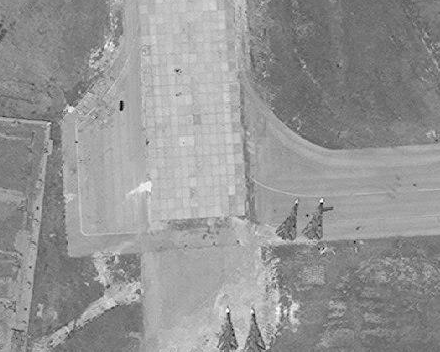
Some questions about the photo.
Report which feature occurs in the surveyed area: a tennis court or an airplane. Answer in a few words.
airplane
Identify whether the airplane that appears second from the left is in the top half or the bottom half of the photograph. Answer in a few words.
bottom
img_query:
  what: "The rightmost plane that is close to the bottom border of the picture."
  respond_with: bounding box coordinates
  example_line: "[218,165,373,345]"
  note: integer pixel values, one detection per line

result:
[245,309,265,351]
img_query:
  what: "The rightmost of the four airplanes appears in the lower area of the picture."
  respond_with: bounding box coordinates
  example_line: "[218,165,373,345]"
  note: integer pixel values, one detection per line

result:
[303,200,322,242]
